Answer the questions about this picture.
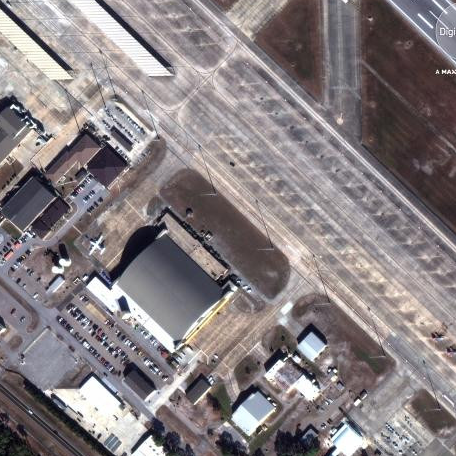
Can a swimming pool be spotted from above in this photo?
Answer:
No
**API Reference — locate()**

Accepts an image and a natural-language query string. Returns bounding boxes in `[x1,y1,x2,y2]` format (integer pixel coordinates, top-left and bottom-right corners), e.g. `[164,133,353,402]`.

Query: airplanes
[88,234,104,256]
[430,333,445,345]
[445,347,456,359]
